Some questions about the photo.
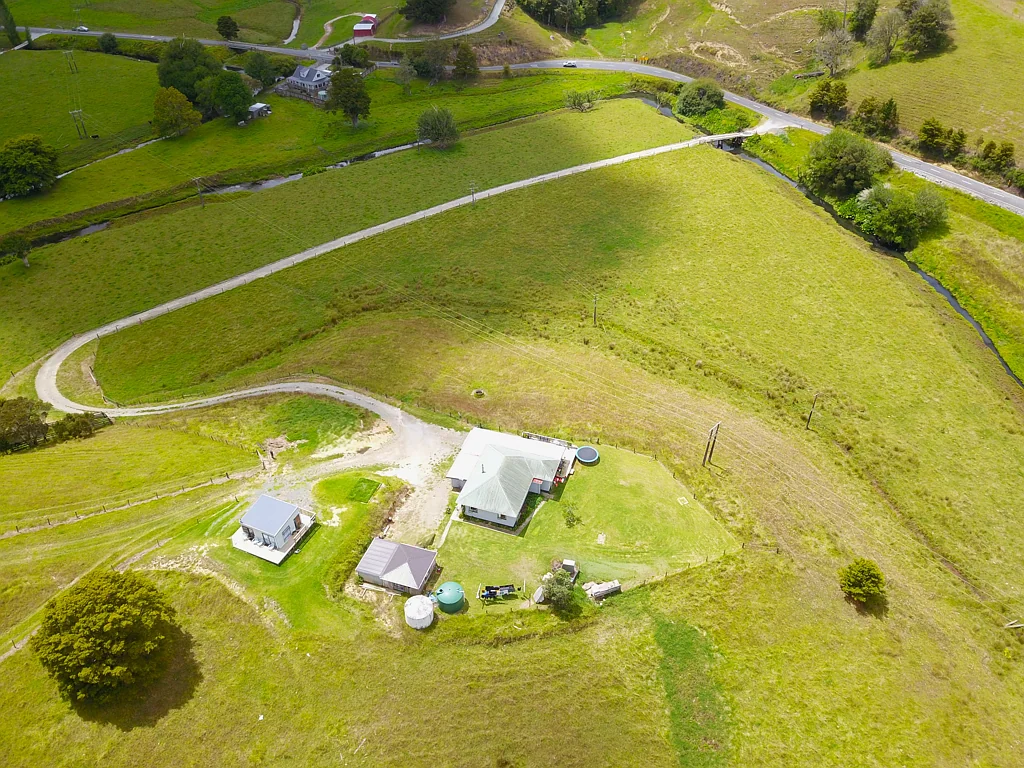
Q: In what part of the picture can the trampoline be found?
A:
center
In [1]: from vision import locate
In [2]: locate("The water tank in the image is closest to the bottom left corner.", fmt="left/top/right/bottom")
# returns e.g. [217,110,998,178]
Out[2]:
[404,594,435,631]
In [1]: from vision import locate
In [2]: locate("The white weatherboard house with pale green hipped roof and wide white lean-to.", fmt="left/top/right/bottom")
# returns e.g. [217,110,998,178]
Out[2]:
[447,428,566,526]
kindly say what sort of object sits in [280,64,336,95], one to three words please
house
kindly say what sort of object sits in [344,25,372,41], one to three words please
barn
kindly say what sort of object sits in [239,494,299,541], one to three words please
building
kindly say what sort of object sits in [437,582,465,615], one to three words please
water tank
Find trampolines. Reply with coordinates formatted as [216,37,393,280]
[575,446,599,466]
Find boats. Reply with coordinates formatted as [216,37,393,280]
[532,590,544,605]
